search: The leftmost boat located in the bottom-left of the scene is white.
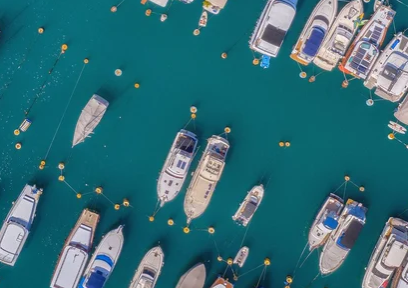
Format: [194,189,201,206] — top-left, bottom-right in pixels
[0,182,43,268]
